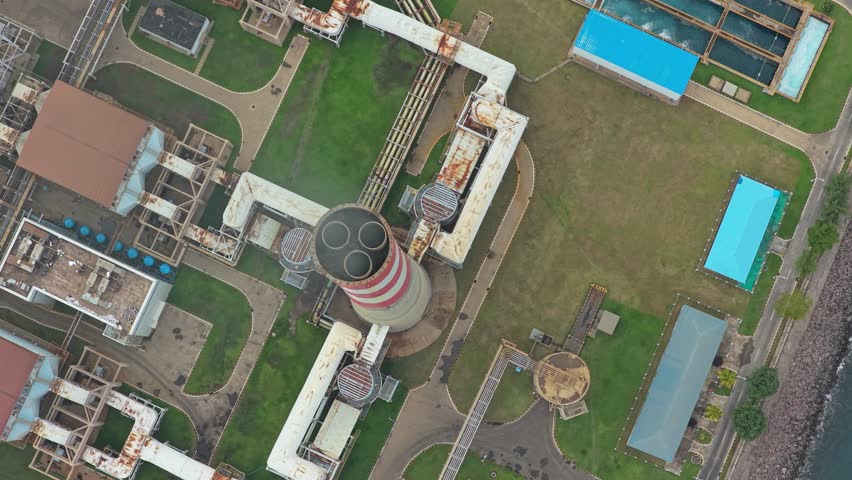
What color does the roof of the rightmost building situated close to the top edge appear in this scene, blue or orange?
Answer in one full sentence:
In this view, the roof of the rightmost building situated close to the top edge is blue.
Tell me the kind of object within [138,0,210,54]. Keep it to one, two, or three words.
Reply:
shed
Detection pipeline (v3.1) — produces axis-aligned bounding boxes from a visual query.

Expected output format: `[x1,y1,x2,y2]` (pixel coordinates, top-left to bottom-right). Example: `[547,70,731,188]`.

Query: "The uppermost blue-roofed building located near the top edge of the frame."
[573,8,699,101]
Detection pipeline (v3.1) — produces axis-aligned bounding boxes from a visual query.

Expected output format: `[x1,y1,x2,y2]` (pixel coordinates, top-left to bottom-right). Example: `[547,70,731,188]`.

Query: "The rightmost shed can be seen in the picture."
[704,176,780,284]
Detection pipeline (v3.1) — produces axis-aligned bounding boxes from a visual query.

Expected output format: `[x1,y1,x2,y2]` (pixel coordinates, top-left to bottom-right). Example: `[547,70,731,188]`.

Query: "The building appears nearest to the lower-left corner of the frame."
[0,329,65,448]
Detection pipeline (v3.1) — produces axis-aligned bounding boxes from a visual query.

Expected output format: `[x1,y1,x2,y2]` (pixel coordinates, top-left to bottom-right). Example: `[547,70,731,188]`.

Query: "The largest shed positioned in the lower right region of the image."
[627,304,727,463]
